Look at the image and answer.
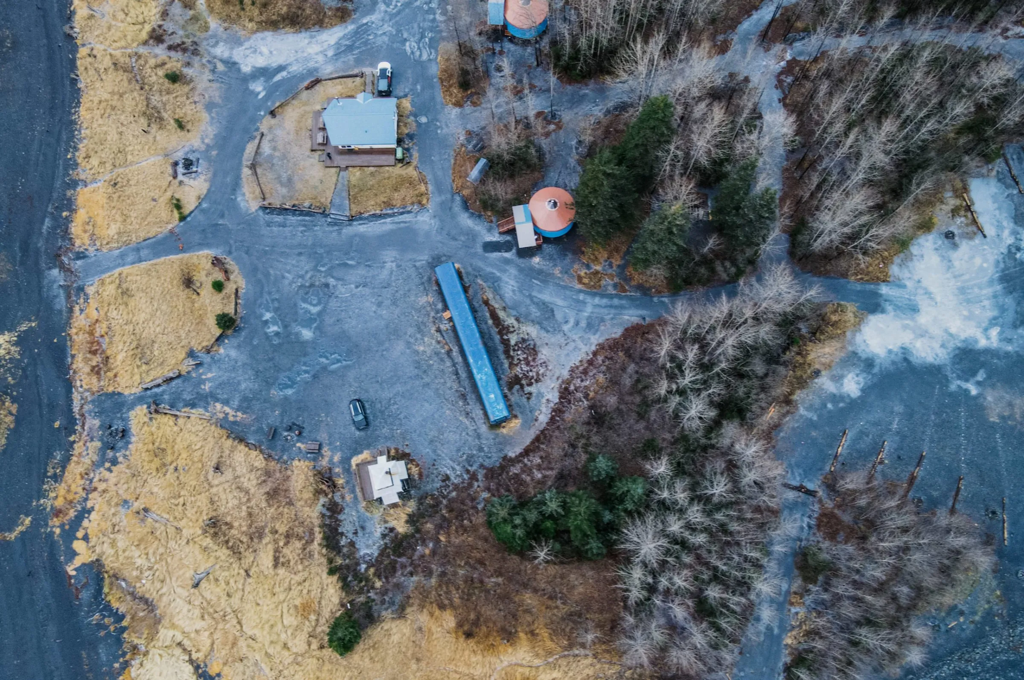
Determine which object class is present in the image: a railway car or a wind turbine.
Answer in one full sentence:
It is a railway car that can be seen here.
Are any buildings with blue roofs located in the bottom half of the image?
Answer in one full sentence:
No, no building with a blue roof can be made out in the bottom half of the image.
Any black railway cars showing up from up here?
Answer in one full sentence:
No, I can see no black railway car in this picture.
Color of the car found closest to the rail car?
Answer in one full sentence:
From above, the car found closest to the rail car appears blue.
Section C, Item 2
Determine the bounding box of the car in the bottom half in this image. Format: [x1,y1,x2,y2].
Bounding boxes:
[350,397,370,431]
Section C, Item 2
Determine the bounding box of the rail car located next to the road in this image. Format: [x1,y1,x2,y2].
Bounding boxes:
[436,264,510,426]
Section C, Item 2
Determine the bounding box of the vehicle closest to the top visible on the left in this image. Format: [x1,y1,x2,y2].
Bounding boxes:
[376,63,391,95]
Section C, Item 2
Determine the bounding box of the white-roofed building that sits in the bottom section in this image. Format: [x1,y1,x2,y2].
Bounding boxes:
[368,455,409,505]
